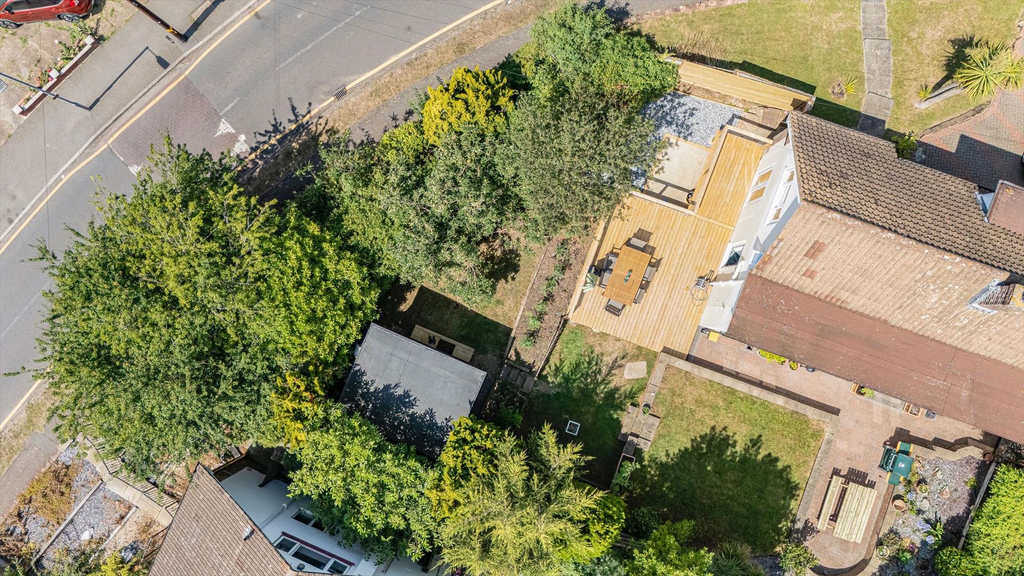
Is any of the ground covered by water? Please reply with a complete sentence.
No, the scene doesn't show any water.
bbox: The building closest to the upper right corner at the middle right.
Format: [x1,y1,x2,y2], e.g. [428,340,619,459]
[695,108,1024,438]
